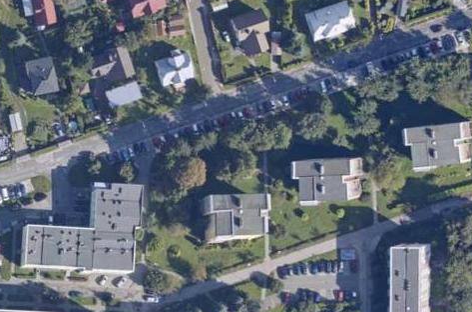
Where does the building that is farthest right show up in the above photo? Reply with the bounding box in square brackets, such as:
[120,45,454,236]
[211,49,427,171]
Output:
[405,123,466,175]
